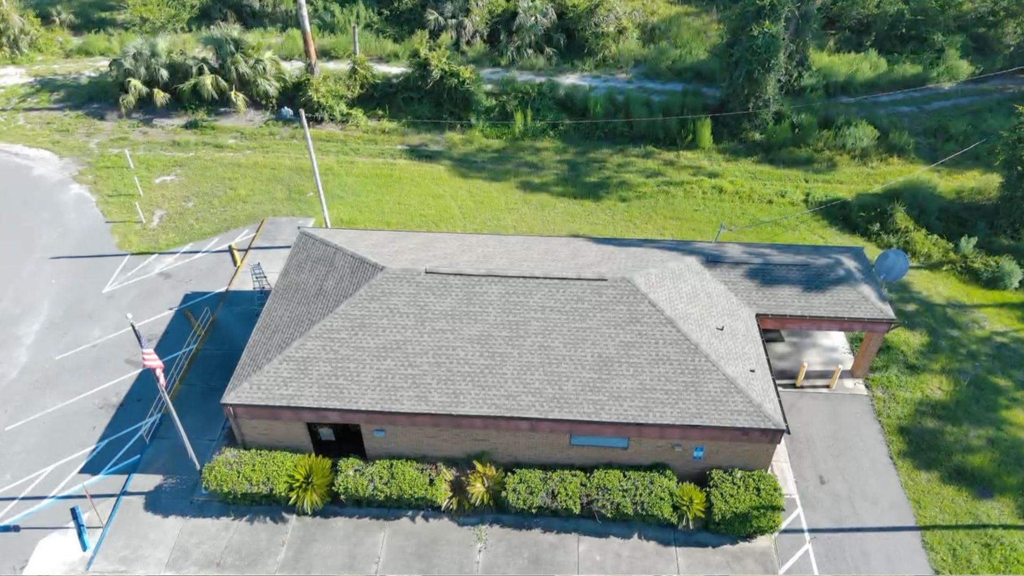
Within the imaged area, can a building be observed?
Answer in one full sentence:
Yes, the frame does contain a building.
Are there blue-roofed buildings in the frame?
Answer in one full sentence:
No, no blue-roofed building is visible in the view.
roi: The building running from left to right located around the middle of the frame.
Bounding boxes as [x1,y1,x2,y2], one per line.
[220,216,903,480]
